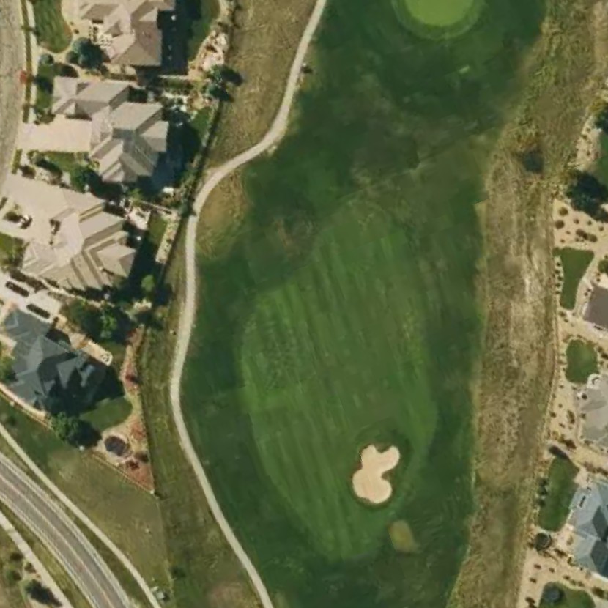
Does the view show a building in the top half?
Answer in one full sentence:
Yes, a building is visible in the top half.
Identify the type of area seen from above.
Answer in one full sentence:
The picture captures a golf course.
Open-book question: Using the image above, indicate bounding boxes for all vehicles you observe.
[27,303,46,317]
[7,282,26,295]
